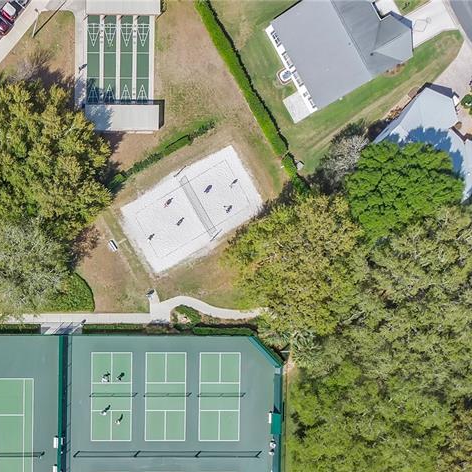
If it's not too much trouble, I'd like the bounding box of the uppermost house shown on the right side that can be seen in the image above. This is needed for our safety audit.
[266,0,414,112]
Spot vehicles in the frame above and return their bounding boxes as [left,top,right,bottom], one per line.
[0,17,10,36]
[14,0,29,13]
[1,5,17,24]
